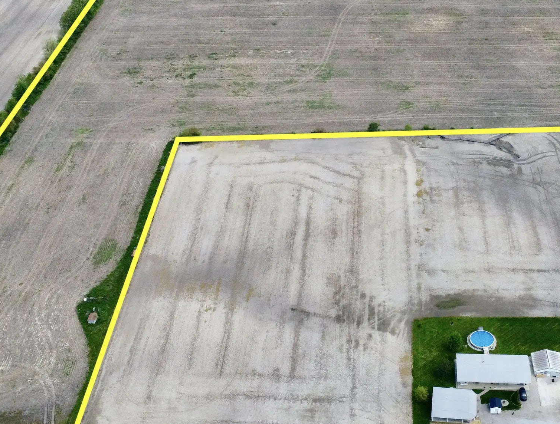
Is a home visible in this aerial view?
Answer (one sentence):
Yes, a home can be made out from above.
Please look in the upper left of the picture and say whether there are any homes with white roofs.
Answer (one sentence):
No, I can find no home with a white roof in the upper left of the picture.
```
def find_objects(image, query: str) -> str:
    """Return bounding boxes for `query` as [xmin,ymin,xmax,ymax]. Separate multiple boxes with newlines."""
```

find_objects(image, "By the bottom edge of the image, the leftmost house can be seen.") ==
[432,387,477,424]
